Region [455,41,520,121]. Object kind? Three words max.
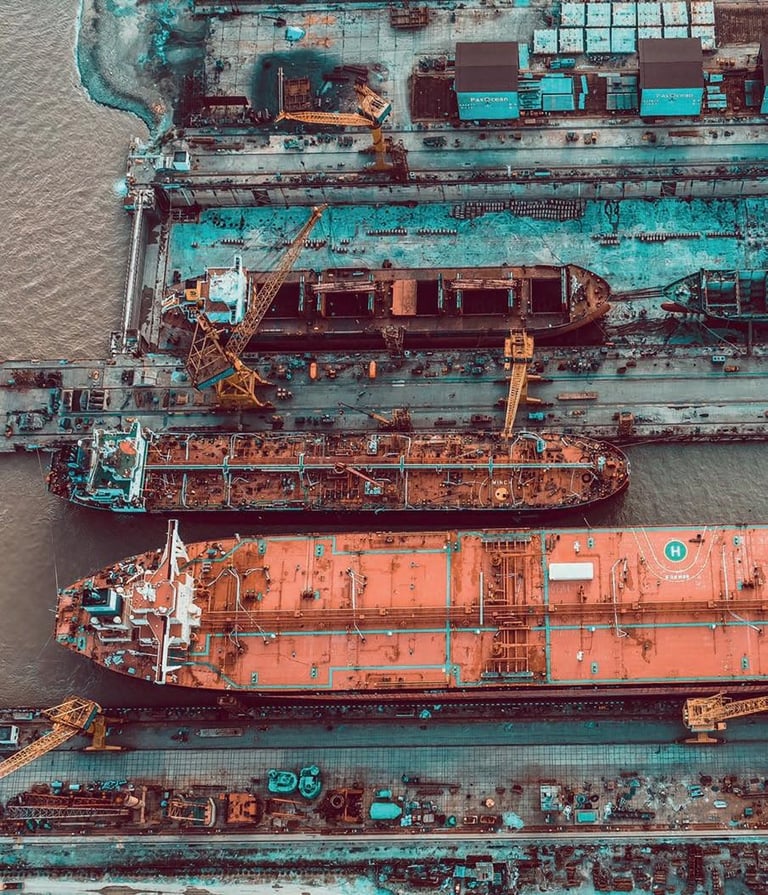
shed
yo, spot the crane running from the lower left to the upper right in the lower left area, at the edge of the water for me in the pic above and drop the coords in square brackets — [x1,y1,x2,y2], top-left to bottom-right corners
[0,676,125,780]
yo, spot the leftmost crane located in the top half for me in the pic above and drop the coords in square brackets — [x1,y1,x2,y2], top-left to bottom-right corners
[190,201,328,413]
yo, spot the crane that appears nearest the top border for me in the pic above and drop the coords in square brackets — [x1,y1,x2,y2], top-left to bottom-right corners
[273,77,399,167]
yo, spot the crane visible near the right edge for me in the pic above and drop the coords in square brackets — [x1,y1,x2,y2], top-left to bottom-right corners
[680,688,768,742]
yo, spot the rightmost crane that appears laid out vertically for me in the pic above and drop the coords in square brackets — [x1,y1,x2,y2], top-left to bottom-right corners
[502,323,541,441]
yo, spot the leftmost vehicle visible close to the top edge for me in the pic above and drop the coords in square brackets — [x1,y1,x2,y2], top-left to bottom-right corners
[262,15,289,30]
